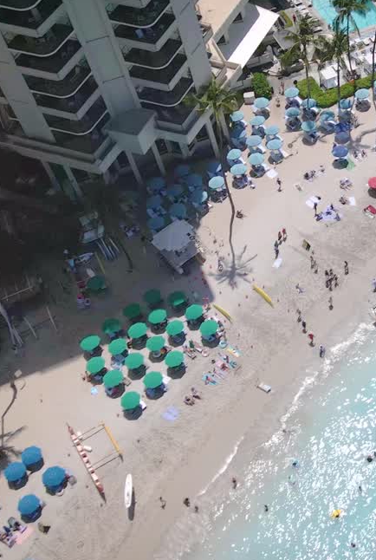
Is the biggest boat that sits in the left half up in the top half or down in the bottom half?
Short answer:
bottom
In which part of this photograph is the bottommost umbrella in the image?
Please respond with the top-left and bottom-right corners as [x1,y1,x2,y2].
[15,494,40,518]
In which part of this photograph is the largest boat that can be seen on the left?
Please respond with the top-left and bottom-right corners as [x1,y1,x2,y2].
[66,419,121,498]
